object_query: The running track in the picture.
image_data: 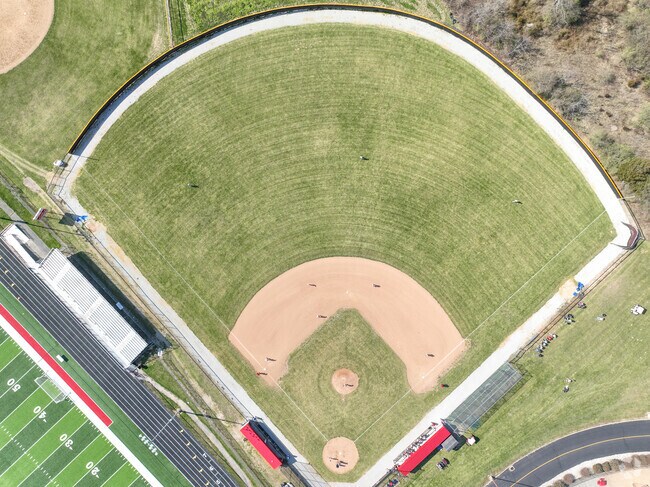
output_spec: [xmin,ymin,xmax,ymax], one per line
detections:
[0,229,243,487]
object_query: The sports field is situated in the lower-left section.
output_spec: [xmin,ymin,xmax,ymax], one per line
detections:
[0,281,194,487]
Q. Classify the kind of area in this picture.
sports ground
